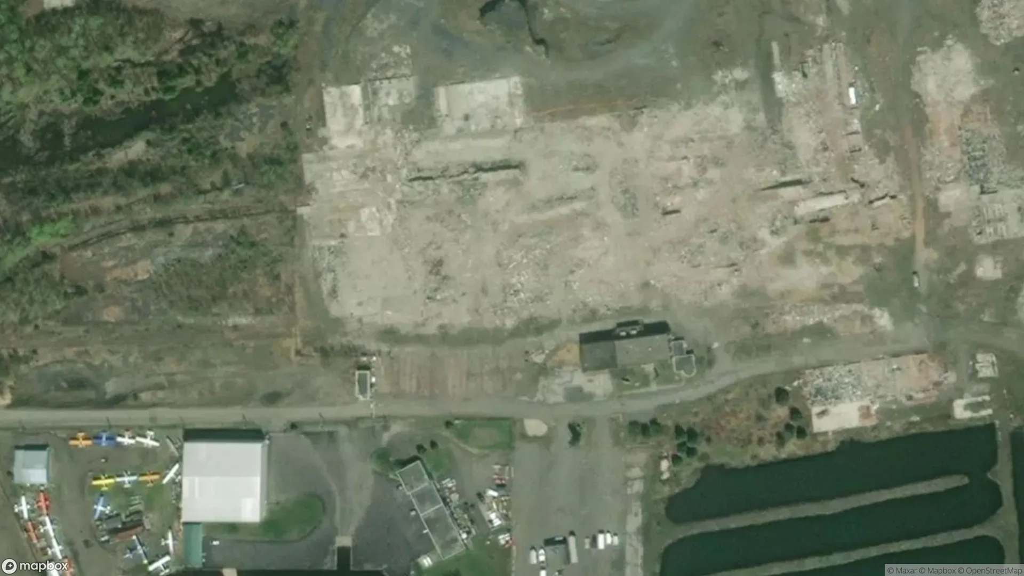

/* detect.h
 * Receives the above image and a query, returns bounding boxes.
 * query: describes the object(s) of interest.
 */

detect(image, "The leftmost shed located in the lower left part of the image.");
[14,450,50,483]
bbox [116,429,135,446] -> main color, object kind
white airplane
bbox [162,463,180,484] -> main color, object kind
white airplane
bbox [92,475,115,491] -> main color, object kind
yellow airplane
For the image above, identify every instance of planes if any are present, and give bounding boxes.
[15,496,33,518]
[92,475,115,491]
[129,535,148,563]
[135,431,160,447]
[94,497,109,518]
[58,558,76,576]
[47,538,65,558]
[148,556,170,575]
[161,530,179,553]
[116,429,135,446]
[93,431,115,447]
[162,463,180,484]
[33,492,52,514]
[43,560,59,576]
[40,516,57,537]
[23,522,40,542]
[166,438,182,458]
[138,471,160,487]
[69,433,92,449]
[116,473,137,488]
